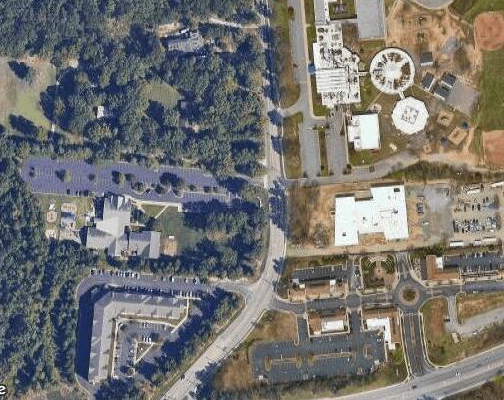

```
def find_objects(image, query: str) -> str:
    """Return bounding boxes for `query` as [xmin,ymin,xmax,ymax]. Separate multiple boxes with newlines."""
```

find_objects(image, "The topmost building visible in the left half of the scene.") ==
[170,31,202,52]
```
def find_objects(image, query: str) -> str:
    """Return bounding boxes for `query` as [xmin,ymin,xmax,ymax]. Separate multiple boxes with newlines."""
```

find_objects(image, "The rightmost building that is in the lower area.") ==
[427,256,460,281]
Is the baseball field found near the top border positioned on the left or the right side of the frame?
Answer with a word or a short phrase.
right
